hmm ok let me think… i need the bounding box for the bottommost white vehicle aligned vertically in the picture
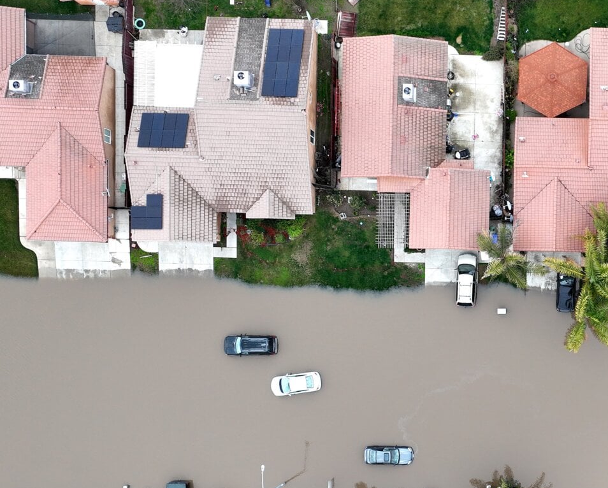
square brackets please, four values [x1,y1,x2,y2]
[454,254,479,307]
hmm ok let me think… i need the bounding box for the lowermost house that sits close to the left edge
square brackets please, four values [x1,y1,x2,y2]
[0,4,117,243]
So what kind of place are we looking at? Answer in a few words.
residential area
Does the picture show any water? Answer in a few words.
Yes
